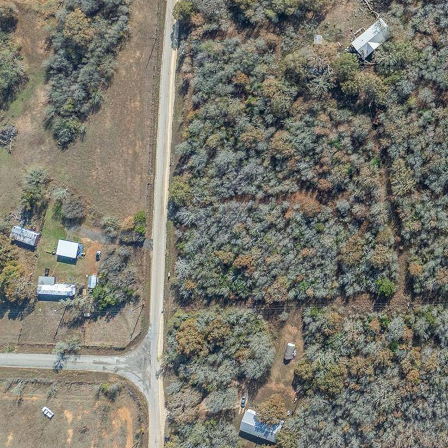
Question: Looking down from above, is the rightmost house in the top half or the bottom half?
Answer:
top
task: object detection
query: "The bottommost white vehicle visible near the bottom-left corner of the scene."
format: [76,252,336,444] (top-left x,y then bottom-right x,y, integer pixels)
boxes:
[41,406,55,420]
